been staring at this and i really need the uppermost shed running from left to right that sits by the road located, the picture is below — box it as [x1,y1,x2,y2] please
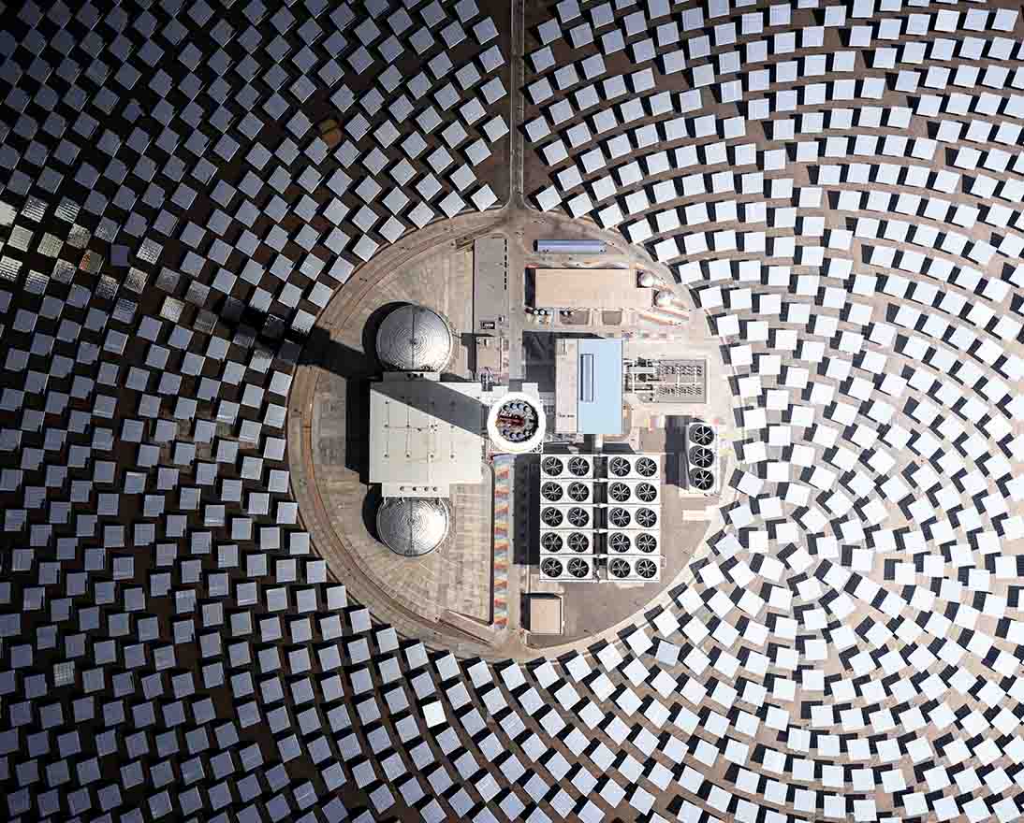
[537,241,608,253]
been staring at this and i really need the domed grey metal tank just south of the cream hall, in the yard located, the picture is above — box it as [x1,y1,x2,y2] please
[376,497,450,557]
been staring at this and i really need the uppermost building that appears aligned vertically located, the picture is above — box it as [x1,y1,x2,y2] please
[475,238,506,334]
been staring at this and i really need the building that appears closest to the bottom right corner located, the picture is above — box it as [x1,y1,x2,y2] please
[526,594,562,637]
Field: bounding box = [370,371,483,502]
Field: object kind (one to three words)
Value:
building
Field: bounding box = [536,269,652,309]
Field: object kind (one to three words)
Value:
building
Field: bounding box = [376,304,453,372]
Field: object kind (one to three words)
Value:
storage tank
